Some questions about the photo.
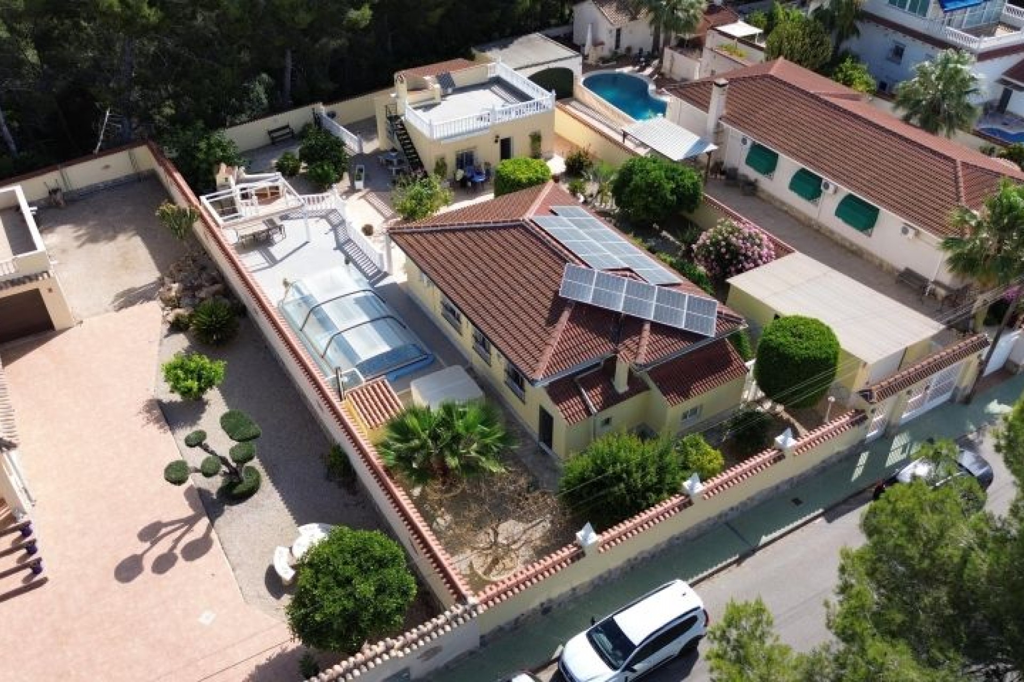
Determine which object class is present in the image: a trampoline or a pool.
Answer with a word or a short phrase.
pool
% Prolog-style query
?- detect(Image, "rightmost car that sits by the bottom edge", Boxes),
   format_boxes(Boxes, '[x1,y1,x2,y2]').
[555,588,713,682]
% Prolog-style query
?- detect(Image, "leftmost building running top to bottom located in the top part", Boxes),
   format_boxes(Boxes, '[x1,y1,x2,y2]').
[0,184,72,343]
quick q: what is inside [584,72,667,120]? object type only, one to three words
swimming pool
